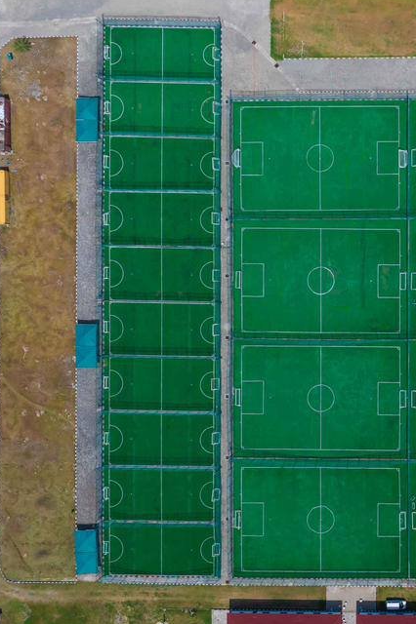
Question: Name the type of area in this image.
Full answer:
What you see here is a sports ground.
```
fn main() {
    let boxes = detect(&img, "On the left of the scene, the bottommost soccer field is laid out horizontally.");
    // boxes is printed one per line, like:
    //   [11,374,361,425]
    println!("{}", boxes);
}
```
[104,521,220,577]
